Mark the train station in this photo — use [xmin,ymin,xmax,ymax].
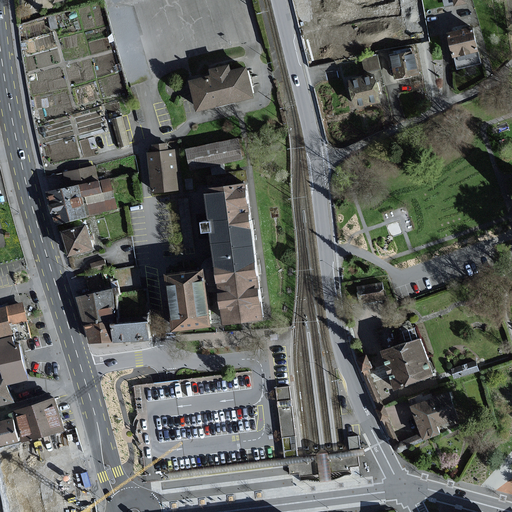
[262,316,366,482]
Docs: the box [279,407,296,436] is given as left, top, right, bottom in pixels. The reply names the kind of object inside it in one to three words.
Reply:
building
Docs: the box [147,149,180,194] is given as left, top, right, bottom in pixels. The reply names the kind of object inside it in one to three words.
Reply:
house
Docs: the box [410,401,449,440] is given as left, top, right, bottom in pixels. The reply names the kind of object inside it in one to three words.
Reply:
house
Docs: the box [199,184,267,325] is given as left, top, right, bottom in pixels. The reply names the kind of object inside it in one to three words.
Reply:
building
